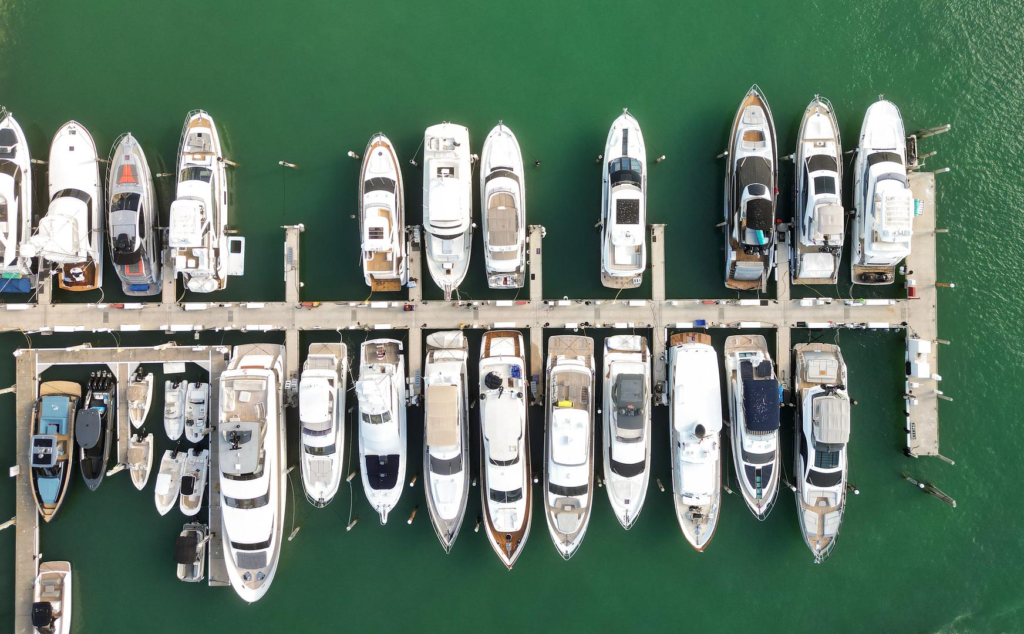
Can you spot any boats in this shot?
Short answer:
Yes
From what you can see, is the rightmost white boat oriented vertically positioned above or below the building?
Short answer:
above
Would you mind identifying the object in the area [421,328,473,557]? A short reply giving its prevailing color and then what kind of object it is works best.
white boat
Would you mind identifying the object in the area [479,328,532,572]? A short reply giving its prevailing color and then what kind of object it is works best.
white boat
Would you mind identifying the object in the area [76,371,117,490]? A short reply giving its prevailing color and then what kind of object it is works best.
gray boat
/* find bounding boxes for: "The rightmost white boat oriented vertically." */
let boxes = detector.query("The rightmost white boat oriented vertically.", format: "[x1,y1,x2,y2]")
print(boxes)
[842,93,913,305]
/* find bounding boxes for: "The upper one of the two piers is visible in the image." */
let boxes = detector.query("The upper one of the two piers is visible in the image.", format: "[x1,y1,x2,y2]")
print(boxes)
[0,171,939,457]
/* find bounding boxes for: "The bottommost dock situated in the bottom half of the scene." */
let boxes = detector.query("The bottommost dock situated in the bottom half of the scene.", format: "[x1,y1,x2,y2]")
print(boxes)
[14,340,233,634]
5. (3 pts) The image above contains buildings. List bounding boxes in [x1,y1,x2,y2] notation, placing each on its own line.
[903,340,930,378]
